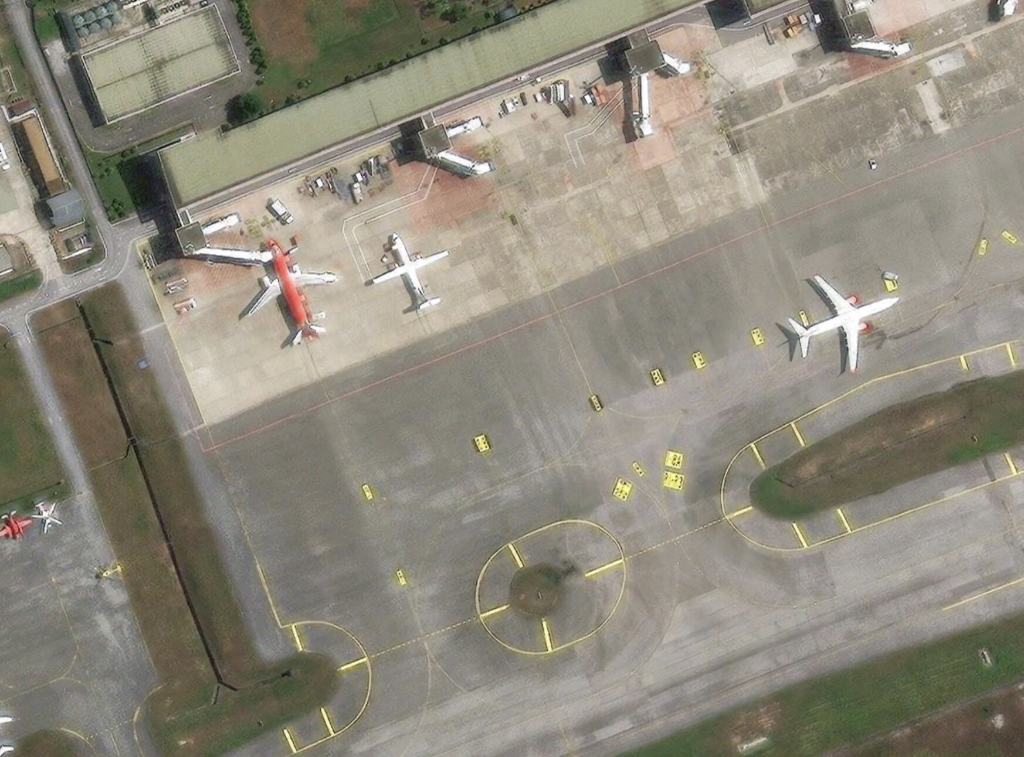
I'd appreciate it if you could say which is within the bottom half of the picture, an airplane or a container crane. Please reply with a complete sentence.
The feature located within the bottom half of the picture is an airplane.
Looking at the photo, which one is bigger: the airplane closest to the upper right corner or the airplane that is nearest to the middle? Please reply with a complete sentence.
Compared with the airplane that is nearest to the middle, the airplane closest to the upper right corner is the larger one.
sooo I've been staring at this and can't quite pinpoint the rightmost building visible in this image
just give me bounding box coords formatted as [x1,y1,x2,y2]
[833,0,876,47]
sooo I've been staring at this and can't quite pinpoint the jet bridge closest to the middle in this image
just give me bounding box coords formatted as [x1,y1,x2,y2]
[435,152,493,174]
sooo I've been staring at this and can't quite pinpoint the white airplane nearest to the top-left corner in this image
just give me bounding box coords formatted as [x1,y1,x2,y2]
[247,241,343,350]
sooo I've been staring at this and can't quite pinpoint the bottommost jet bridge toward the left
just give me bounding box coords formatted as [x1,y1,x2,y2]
[194,248,275,264]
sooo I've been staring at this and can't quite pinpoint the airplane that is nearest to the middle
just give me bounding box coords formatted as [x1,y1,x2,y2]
[373,234,445,306]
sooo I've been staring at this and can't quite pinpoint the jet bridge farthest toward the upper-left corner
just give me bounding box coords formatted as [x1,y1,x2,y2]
[200,209,244,234]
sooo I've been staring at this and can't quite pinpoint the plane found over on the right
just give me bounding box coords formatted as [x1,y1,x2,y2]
[786,274,899,374]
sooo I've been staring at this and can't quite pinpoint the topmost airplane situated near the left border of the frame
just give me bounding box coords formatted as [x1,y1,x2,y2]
[0,511,33,538]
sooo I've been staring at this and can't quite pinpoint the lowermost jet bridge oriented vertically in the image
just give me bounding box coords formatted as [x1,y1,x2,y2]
[635,71,654,137]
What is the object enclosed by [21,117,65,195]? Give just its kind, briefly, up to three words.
shed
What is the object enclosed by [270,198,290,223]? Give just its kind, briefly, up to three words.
vehicle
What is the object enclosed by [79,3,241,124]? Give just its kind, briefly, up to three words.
building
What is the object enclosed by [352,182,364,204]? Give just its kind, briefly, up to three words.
vehicle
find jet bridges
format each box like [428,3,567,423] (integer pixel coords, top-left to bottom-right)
[200,209,244,234]
[661,51,693,75]
[635,71,654,137]
[446,115,484,137]
[194,248,275,264]
[849,0,881,10]
[435,152,493,174]
[849,41,913,57]
[997,0,1013,17]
